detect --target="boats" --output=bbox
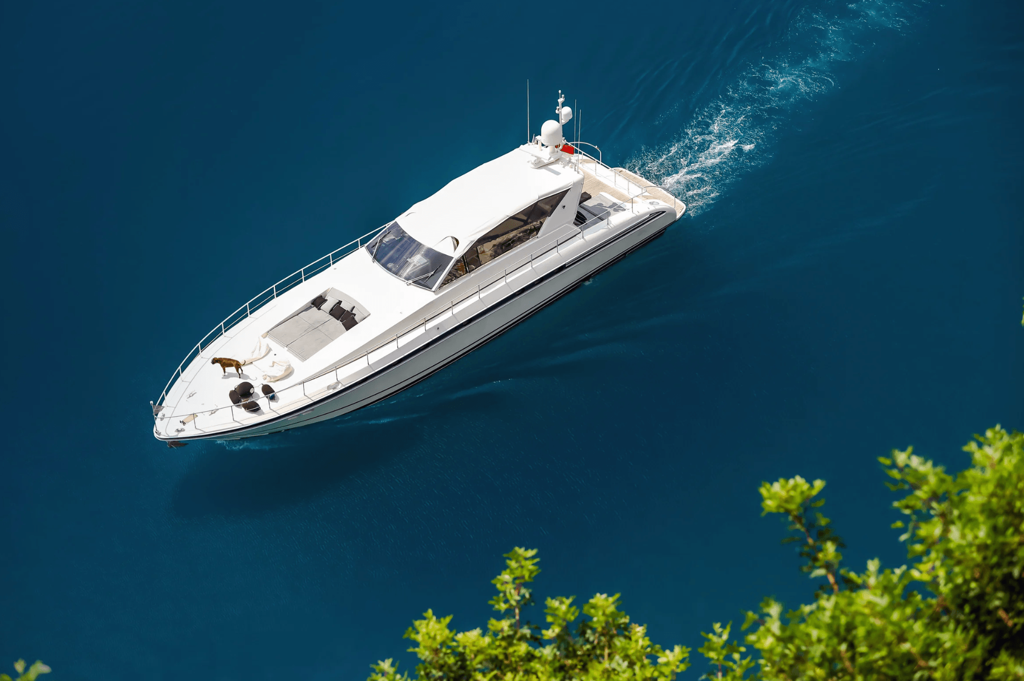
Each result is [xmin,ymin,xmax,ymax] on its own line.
[150,80,684,447]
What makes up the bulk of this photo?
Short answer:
water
